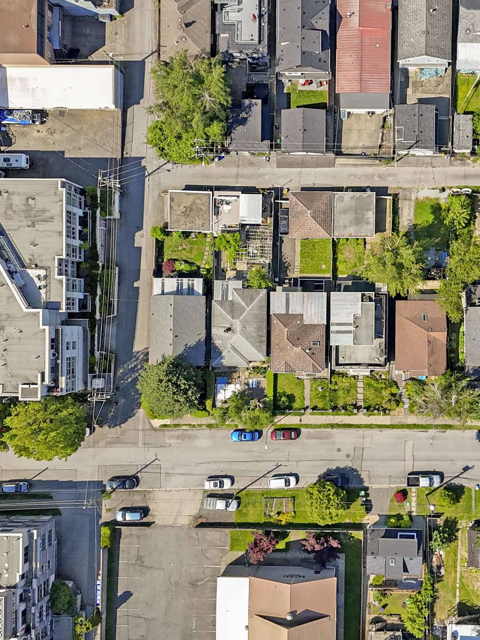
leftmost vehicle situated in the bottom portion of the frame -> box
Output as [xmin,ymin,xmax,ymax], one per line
[1,480,31,494]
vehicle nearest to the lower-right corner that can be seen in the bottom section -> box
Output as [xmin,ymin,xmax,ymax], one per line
[405,473,443,488]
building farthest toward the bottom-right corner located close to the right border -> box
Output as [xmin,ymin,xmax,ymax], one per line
[445,603,480,640]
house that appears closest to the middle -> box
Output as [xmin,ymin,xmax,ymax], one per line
[211,281,267,367]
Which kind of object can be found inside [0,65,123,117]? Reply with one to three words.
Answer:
building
